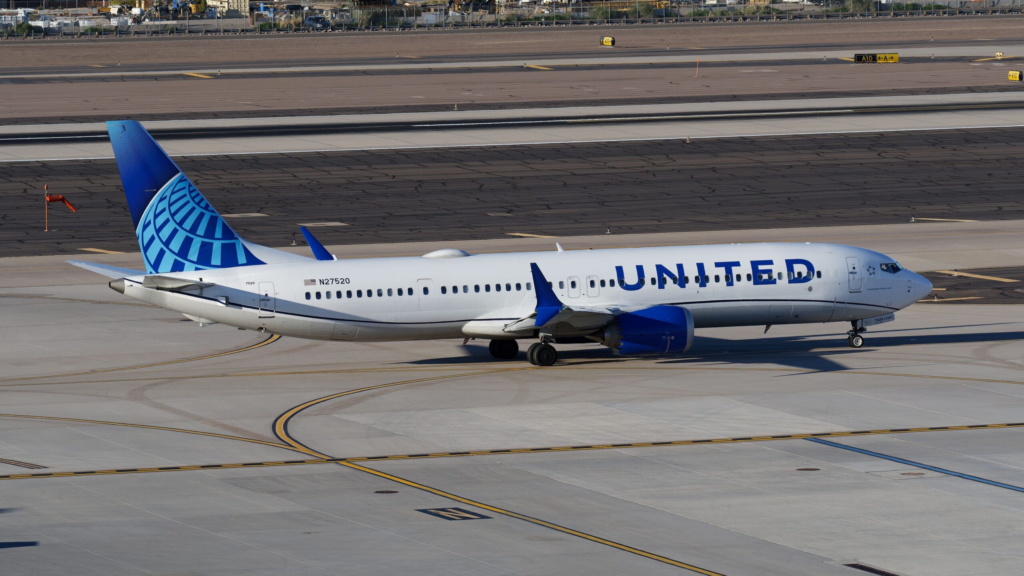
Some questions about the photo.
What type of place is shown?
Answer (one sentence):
The area seen from above is an airport.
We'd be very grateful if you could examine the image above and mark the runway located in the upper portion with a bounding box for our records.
[0,92,1024,161]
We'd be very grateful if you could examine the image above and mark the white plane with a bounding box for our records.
[67,120,933,367]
